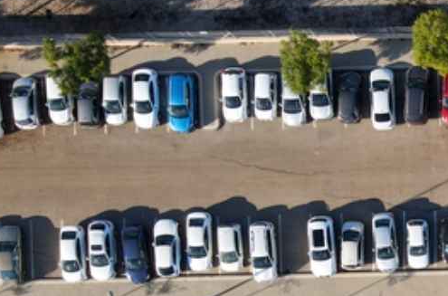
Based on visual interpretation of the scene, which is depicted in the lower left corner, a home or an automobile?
automobile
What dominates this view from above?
paved ground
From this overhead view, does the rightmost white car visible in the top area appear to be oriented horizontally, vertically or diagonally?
vertically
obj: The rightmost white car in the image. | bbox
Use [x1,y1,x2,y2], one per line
[404,220,430,268]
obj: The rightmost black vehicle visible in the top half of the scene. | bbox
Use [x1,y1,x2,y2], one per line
[403,67,429,124]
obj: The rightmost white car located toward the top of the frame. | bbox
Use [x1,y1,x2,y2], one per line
[368,69,395,129]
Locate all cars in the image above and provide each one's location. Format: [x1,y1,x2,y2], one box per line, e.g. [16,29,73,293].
[307,215,335,277]
[220,67,248,122]
[75,81,102,124]
[404,220,430,268]
[151,219,182,276]
[368,69,395,129]
[373,212,399,272]
[252,73,278,121]
[216,224,243,273]
[58,225,87,281]
[339,221,364,269]
[440,68,448,123]
[132,68,160,128]
[99,75,130,125]
[335,70,362,122]
[249,222,278,282]
[87,220,117,280]
[166,71,195,133]
[308,73,334,119]
[279,72,307,125]
[11,77,41,129]
[403,67,429,124]
[185,211,213,271]
[45,73,74,124]
[122,225,151,283]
